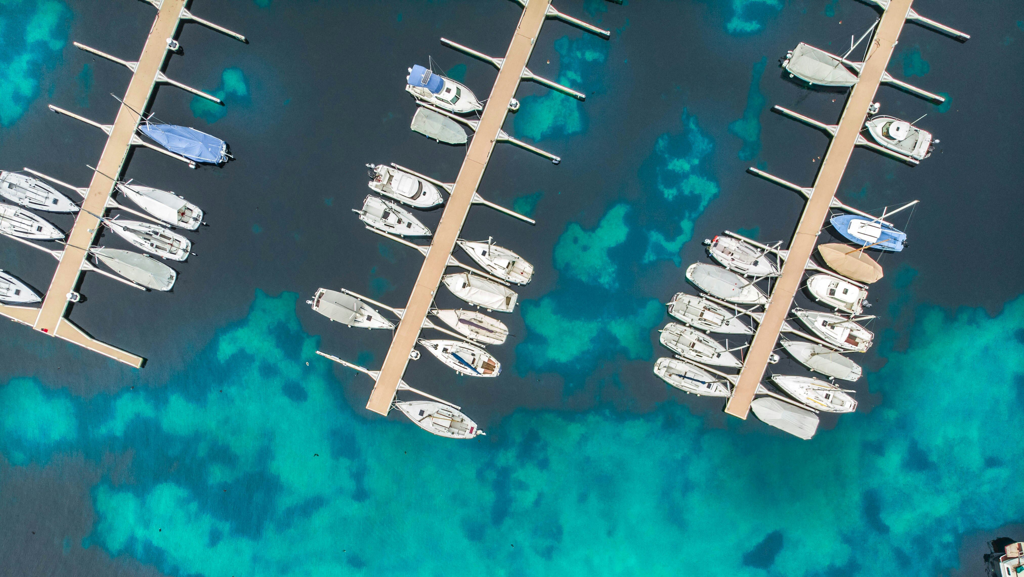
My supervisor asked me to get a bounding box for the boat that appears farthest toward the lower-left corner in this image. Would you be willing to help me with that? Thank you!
[0,270,48,314]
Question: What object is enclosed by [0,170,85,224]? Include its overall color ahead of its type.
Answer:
white boat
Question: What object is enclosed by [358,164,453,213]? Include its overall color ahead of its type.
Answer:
white boat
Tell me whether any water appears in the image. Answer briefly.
Yes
